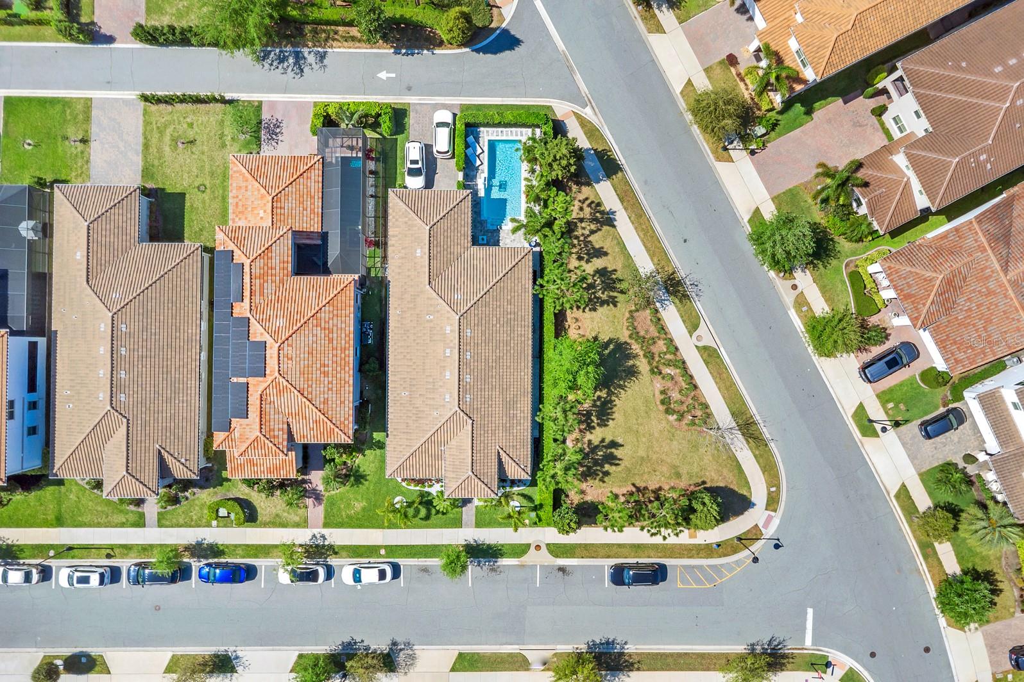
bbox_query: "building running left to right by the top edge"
[740,0,976,100]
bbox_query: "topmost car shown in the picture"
[431,109,456,160]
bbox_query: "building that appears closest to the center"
[386,188,534,499]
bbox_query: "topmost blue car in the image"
[860,345,916,383]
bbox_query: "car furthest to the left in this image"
[0,561,40,586]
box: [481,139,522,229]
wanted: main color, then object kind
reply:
blue swimming pool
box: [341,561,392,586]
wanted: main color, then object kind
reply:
white car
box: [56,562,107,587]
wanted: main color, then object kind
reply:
white car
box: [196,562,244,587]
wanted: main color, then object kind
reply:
blue car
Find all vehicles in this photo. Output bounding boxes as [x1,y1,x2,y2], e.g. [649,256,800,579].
[0,561,40,586]
[341,561,392,586]
[431,109,456,160]
[860,345,916,383]
[403,140,428,189]
[916,408,965,440]
[196,562,244,587]
[609,562,659,587]
[276,561,326,586]
[56,562,107,587]
[126,563,179,588]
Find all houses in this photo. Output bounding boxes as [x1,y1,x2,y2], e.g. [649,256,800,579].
[386,188,534,499]
[0,329,47,484]
[51,183,210,499]
[861,185,1024,377]
[850,0,1024,233]
[740,0,976,100]
[212,153,363,478]
[962,355,1024,517]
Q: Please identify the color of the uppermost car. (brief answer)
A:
white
